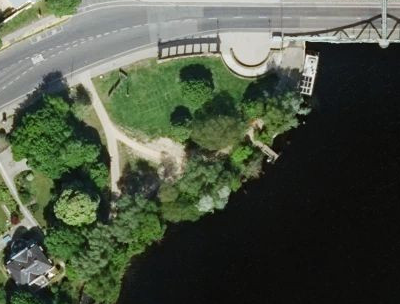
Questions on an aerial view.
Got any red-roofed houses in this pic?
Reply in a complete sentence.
No, I can't see a single red-roofed house in this photo.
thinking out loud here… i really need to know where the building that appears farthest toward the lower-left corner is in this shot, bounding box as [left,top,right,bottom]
[4,244,54,288]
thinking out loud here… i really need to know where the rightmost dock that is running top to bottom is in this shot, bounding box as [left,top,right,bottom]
[300,54,319,95]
